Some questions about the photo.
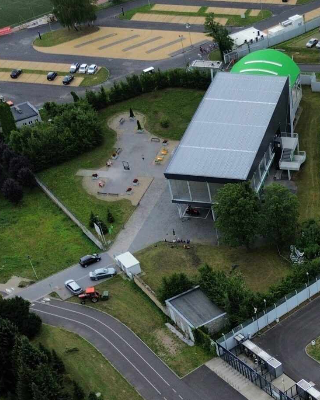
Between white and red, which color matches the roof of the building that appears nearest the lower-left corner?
white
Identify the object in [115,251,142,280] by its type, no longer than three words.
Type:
building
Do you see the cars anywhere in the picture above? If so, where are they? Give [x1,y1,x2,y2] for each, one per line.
[78,254,102,268]
[87,64,98,74]
[307,39,318,47]
[61,74,75,84]
[68,62,81,73]
[66,280,83,295]
[78,63,90,73]
[10,69,23,79]
[46,70,59,81]
[88,269,112,281]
